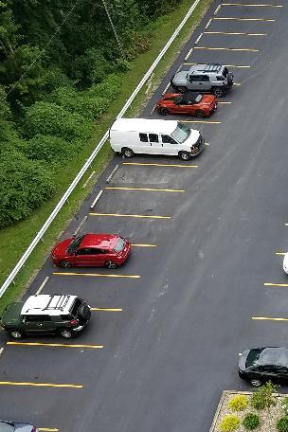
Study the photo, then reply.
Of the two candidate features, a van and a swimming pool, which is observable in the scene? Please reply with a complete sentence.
There is a van in the scene.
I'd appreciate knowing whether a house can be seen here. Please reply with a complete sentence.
No, I can't see a single house in this photo.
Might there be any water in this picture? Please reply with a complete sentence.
No, the scene doesn't show any water.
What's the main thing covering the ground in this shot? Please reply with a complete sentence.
The bulk of the photo consists of paved ground.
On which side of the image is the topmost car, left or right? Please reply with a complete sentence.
You can find the topmost car on the right side of the picture.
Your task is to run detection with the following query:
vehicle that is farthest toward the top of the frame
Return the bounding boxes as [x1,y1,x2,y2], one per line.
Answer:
[169,63,236,96]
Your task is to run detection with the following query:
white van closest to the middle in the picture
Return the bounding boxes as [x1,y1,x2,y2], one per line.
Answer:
[105,118,205,160]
